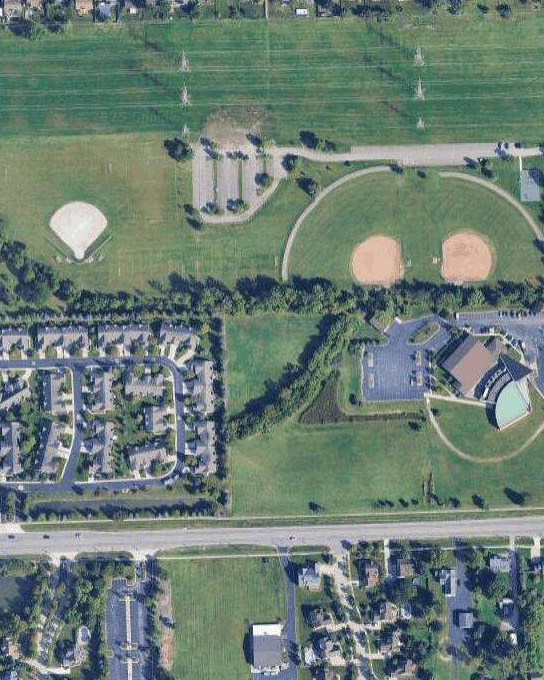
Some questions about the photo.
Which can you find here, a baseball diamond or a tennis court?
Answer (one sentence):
There is a baseball diamond in the scene.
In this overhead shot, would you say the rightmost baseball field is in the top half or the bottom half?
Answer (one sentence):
Seen from above, the rightmost baseball field lies in the top half of the view.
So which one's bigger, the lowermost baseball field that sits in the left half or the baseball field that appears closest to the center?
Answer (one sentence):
The larger object is the baseball field that appears closest to the center, with the lowermost baseball field that sits in the left half being the smaller of the pair.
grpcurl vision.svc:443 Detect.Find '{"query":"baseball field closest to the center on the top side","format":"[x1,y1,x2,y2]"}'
[288,173,422,288]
